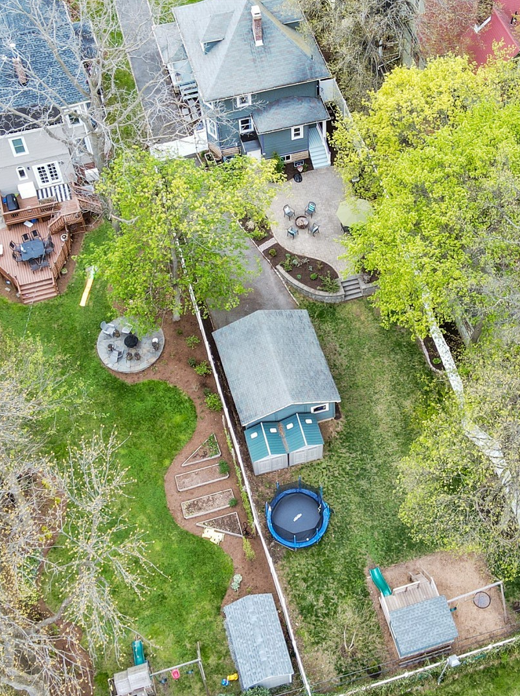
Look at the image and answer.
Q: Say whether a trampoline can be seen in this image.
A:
Yes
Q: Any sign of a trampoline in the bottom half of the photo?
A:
Yes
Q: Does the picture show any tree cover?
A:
Yes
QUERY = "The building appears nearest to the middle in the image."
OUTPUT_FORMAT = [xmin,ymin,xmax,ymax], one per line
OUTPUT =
[215,309,339,431]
